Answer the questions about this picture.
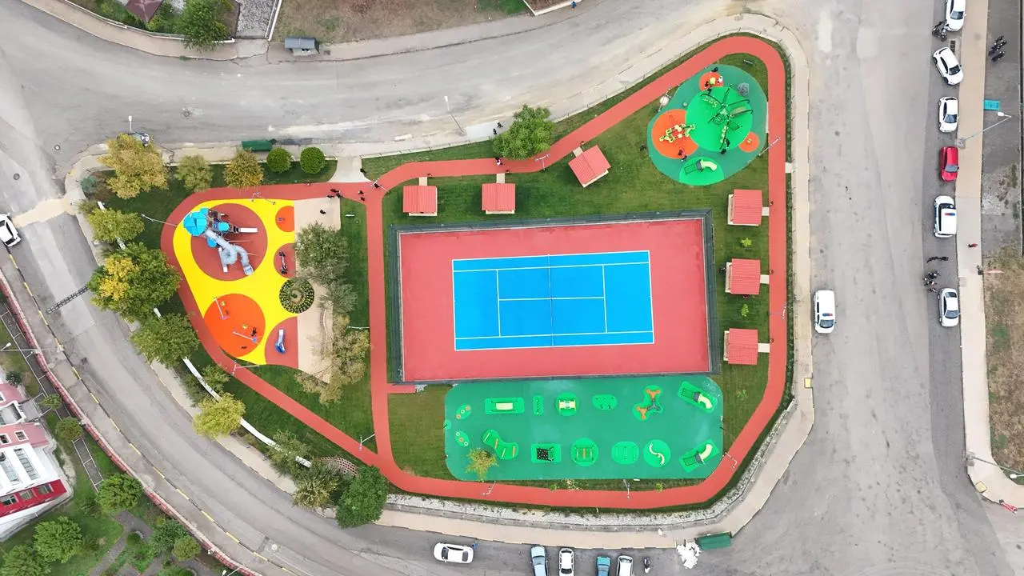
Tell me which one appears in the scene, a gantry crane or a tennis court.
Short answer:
tennis court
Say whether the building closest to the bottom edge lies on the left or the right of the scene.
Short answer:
left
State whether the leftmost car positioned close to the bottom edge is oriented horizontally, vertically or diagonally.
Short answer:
horizontally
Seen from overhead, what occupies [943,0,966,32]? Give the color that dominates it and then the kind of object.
white car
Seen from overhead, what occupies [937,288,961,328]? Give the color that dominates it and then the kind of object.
white car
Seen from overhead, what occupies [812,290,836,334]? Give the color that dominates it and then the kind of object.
white vehicle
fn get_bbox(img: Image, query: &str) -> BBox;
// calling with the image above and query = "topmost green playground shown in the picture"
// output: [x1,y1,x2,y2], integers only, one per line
[647,64,767,185]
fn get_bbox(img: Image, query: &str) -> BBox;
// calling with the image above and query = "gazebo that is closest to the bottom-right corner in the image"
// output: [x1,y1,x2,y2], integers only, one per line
[724,328,762,363]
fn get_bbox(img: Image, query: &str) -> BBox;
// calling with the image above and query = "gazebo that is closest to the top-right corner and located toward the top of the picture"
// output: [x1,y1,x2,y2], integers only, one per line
[729,189,766,224]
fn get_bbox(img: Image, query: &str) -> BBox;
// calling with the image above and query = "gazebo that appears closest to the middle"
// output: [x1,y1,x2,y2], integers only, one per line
[482,181,515,214]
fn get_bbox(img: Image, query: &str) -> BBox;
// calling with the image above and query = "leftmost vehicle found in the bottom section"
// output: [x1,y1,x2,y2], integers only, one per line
[434,542,475,563]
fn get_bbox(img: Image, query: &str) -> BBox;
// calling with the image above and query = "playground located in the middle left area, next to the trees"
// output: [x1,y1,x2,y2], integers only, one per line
[175,199,298,369]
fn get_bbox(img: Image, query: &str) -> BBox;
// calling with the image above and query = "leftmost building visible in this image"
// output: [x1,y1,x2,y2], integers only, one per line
[0,385,70,529]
